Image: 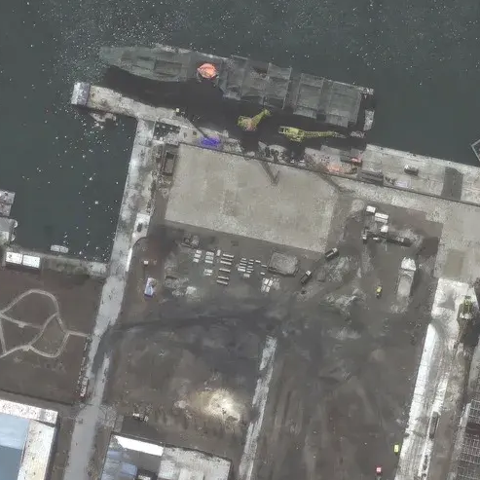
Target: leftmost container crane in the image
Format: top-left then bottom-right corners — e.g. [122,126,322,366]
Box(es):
[177,112,225,154]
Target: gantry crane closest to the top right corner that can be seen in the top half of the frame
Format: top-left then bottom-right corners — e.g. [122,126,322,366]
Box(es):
[270,128,348,156]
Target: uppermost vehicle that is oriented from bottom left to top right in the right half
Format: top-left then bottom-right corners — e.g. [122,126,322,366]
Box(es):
[324,246,339,259]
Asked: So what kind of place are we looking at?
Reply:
port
